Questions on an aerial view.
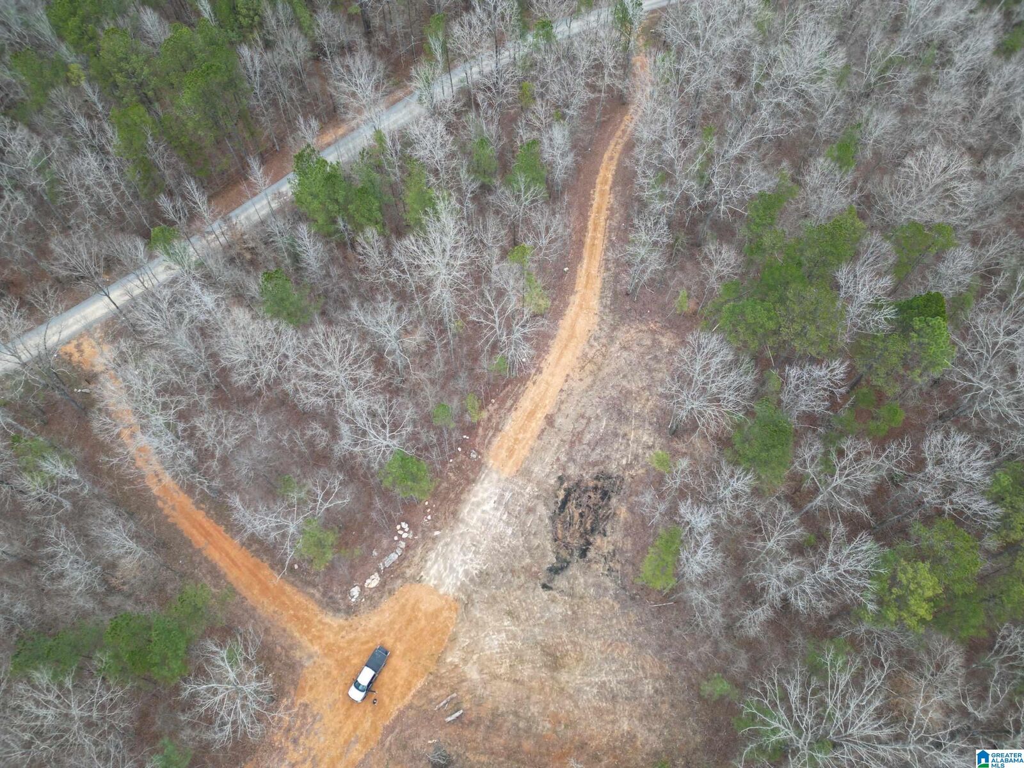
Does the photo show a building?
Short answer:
No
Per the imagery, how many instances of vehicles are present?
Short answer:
1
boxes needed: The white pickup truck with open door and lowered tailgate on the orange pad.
[348,644,391,704]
